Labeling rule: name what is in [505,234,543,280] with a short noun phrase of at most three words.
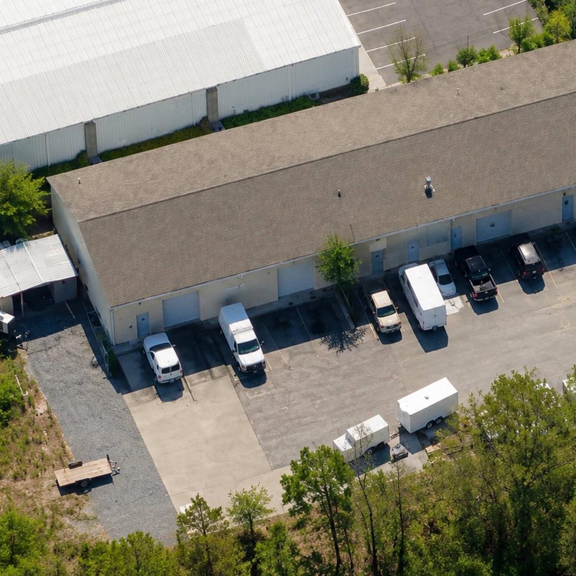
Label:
car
